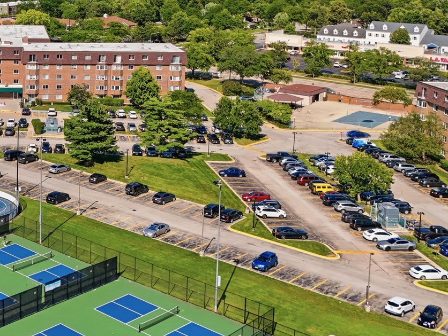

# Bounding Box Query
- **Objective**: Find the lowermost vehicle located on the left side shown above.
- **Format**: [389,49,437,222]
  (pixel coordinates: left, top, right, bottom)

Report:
[143,223,171,239]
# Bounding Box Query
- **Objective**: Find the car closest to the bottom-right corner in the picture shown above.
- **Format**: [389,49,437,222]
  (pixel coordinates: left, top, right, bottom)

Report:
[417,304,445,330]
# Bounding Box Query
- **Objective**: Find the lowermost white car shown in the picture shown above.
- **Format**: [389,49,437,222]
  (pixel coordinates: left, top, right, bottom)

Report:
[384,297,414,319]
